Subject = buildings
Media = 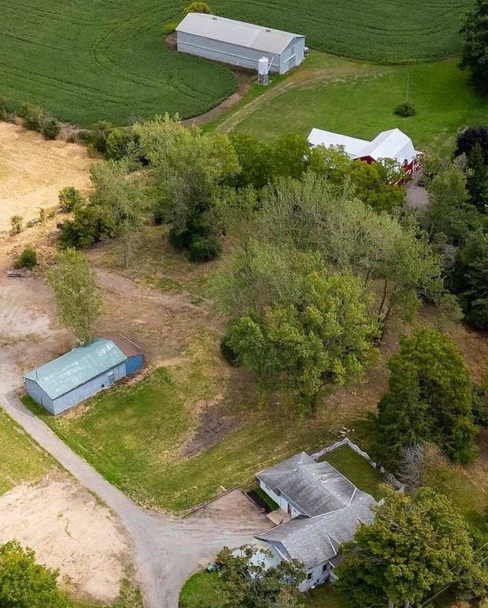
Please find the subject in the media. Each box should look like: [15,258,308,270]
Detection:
[298,129,431,180]
[175,12,308,75]
[22,338,144,417]
[253,452,377,589]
